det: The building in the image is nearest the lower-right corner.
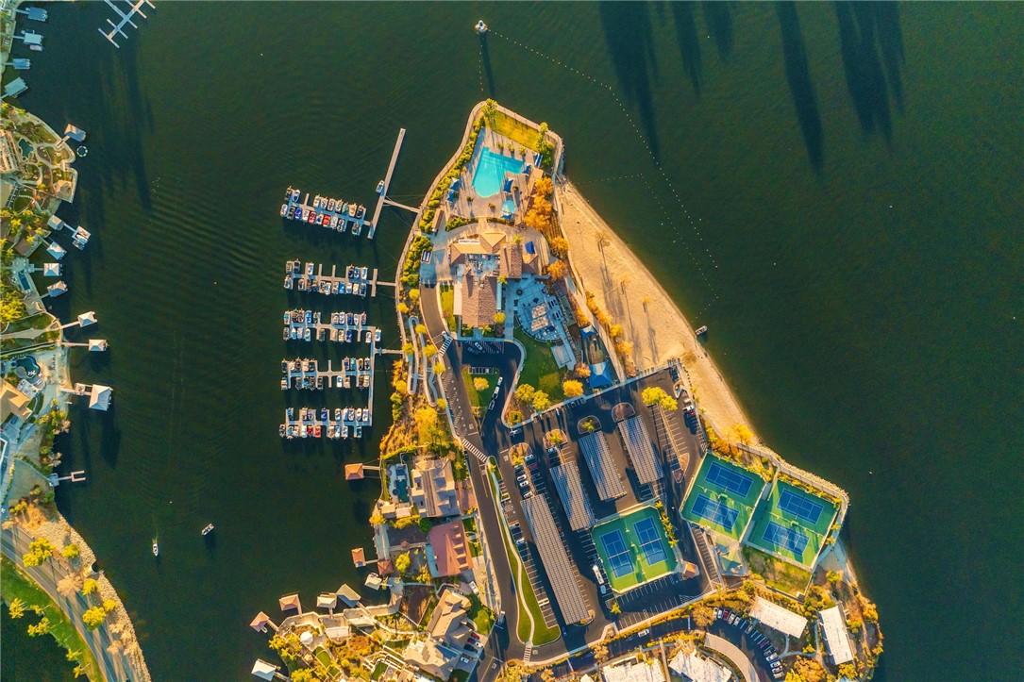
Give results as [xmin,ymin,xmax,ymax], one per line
[814,605,853,665]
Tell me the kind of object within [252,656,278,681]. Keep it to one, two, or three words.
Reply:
building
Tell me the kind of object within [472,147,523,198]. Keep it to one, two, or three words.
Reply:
swimming pool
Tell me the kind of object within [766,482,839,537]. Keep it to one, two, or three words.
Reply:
tennis court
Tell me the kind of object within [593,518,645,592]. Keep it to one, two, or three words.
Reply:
tennis court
